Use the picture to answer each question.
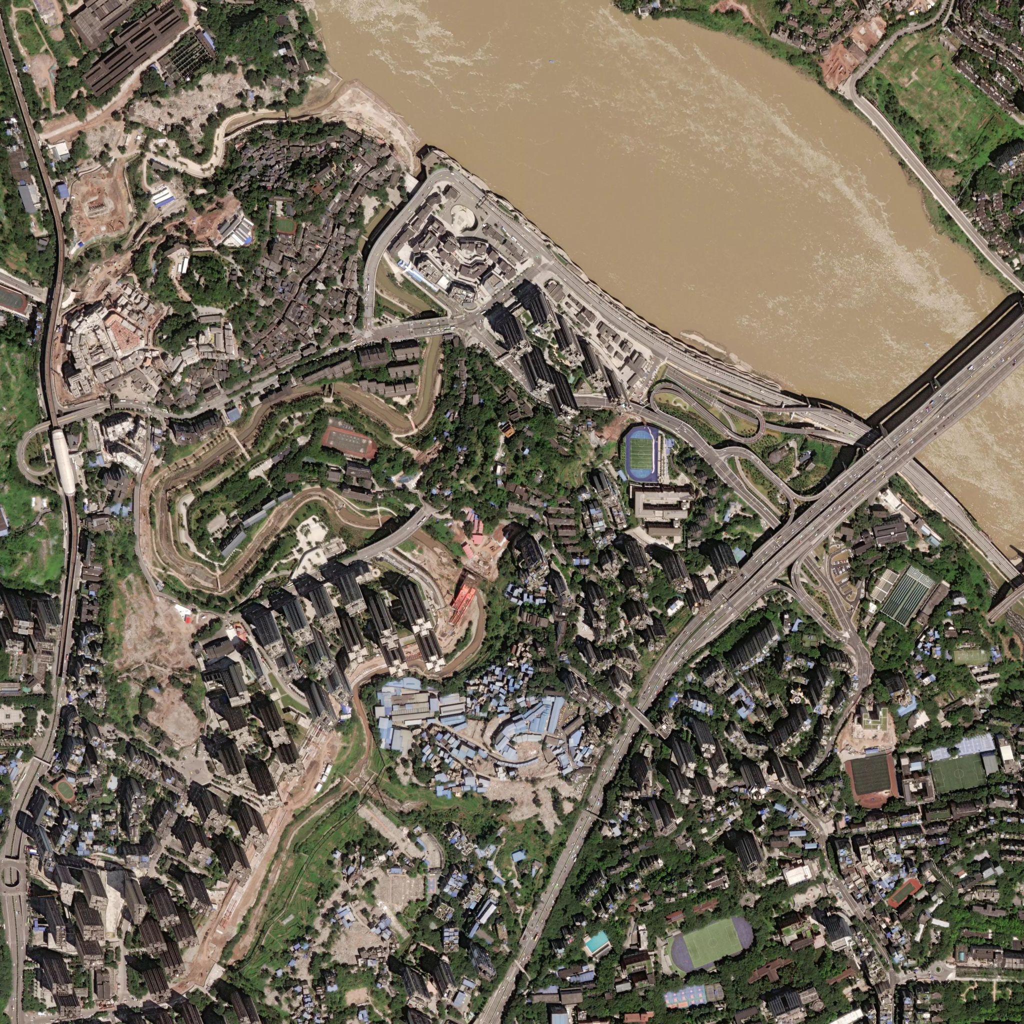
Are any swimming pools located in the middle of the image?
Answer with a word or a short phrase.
No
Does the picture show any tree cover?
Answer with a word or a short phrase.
Yes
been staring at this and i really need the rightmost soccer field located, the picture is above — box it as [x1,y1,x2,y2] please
[932,754,987,794]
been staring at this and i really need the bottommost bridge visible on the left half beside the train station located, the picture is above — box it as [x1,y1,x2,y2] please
[57,496,78,677]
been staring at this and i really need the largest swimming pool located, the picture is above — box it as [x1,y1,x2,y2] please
[582,932,611,958]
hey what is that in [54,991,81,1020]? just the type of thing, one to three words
building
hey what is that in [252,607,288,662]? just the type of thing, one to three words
building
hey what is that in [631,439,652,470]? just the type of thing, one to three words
sports field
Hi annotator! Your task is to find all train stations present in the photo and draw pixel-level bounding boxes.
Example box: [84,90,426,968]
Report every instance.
[42,428,75,498]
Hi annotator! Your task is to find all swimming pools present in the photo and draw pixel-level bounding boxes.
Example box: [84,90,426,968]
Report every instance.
[582,932,611,958]
[109,776,118,789]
